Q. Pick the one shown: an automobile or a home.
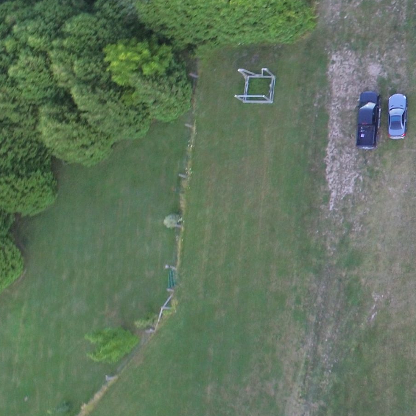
automobile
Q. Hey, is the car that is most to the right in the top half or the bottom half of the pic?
top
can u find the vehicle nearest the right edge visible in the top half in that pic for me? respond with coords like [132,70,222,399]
[385,94,409,139]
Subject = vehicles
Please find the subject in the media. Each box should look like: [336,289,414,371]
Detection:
[385,94,409,139]
[355,92,383,152]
